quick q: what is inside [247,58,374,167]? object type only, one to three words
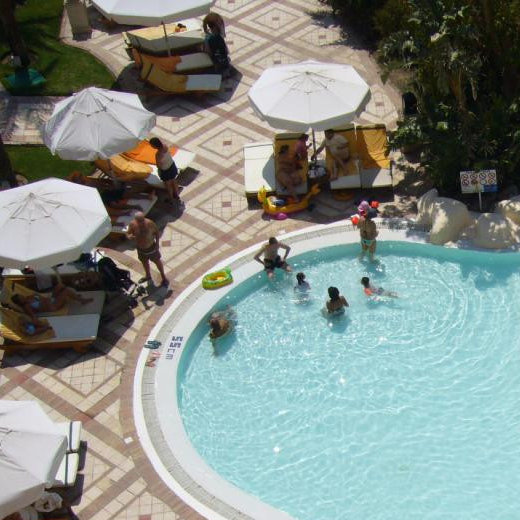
umbrella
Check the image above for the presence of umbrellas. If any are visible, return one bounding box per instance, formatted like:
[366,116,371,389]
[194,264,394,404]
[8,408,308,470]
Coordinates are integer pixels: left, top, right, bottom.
[247,58,374,167]
[106,0,218,59]
[0,170,114,293]
[41,66,162,169]
[0,404,63,520]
